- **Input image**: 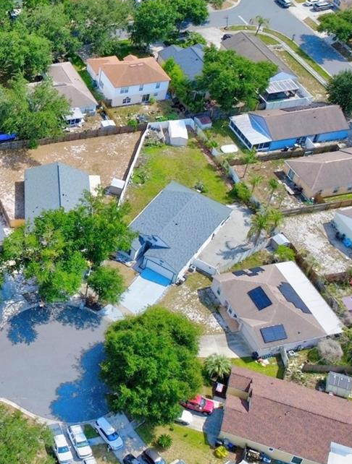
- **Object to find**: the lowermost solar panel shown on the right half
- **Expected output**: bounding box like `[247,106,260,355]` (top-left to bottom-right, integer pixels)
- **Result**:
[261,325,287,343]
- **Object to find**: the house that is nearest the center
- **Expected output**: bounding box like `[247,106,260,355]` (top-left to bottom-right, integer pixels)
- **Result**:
[119,181,225,287]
